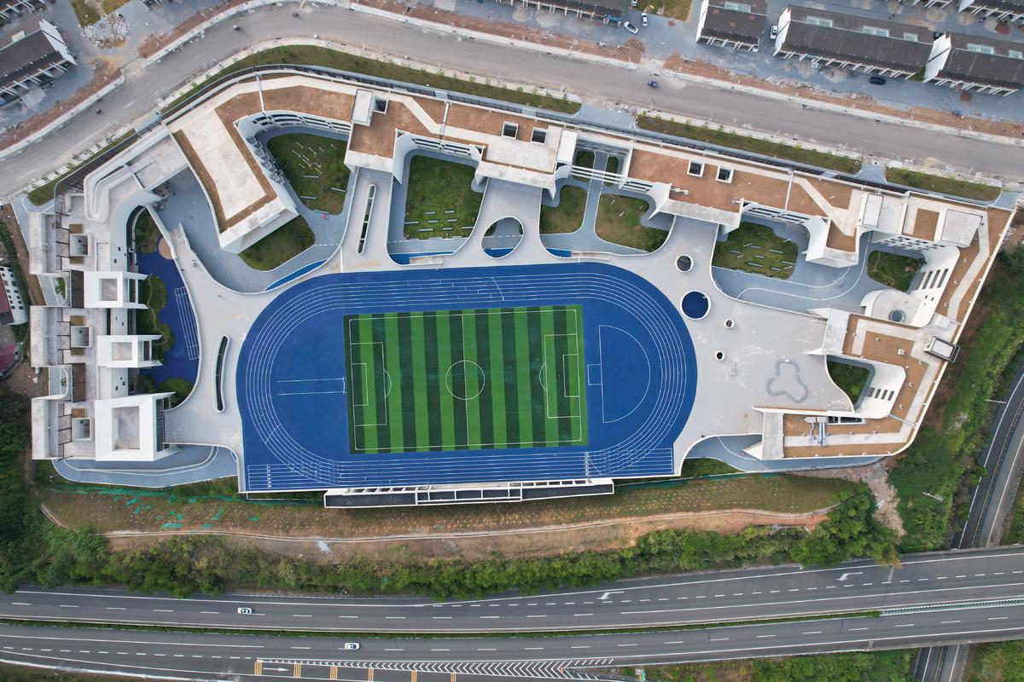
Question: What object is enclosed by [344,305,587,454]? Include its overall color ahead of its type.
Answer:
green soccer field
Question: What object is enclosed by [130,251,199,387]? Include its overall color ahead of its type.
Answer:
blue sports court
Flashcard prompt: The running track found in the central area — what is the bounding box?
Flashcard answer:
[237,262,697,492]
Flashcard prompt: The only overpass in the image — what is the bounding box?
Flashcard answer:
[867,540,1024,652]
